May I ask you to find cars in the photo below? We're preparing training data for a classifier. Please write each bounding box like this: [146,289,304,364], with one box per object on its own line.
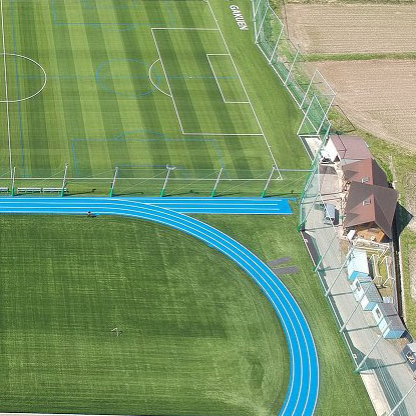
[317,150,331,168]
[324,205,340,225]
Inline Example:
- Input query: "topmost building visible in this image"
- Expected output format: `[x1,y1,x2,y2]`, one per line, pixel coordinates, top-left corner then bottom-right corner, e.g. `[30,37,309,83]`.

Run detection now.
[324,135,372,175]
